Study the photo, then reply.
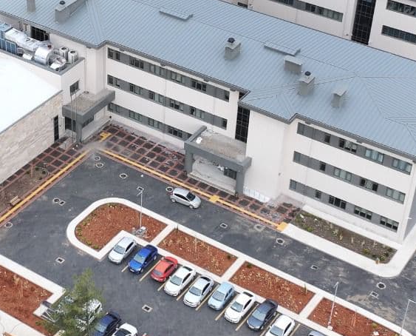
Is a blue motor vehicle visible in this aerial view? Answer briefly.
Yes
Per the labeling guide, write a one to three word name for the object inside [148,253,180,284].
car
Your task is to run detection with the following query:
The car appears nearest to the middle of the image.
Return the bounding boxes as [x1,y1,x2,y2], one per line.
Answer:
[169,186,202,210]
